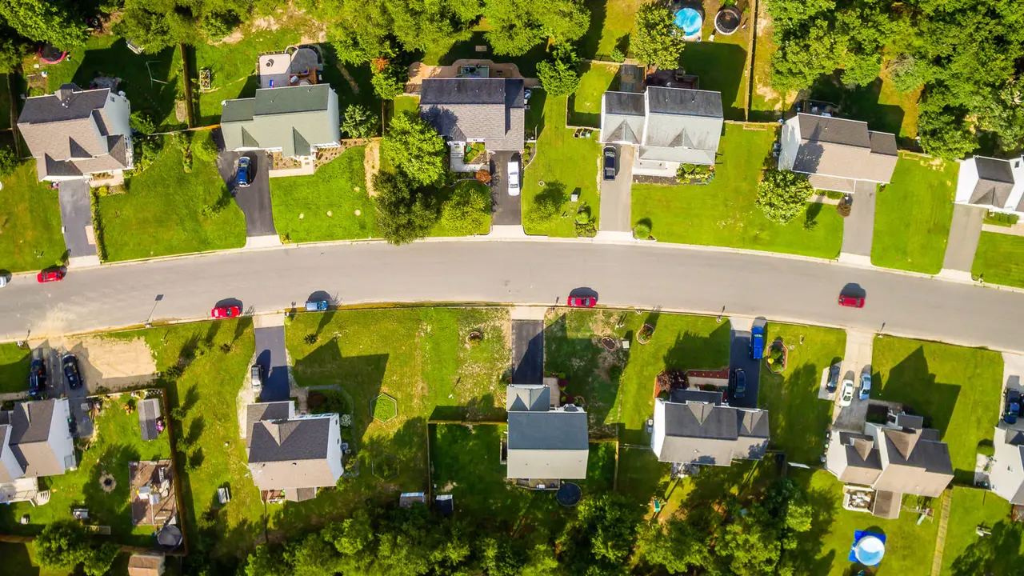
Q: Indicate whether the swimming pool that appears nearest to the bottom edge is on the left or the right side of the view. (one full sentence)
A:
It is on the right.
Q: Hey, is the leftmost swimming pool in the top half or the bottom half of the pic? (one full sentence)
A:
You can find the leftmost swimming pool in the bottom half.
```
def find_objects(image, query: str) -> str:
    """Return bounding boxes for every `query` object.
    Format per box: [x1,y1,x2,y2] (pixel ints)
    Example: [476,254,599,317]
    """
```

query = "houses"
[220,84,341,164]
[982,428,1024,522]
[245,395,341,505]
[827,406,954,519]
[499,383,589,490]
[779,113,898,194]
[17,83,132,186]
[654,389,770,479]
[0,397,75,506]
[950,155,1024,219]
[600,86,723,167]
[419,79,524,158]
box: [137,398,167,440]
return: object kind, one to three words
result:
shed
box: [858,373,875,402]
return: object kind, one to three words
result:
car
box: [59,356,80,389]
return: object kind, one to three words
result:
car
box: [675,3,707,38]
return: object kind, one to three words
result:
swimming pool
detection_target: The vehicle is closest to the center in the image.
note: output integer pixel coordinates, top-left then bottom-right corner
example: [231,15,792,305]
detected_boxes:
[569,295,597,308]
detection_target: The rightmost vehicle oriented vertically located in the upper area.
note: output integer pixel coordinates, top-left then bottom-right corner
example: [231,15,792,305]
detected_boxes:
[604,147,617,179]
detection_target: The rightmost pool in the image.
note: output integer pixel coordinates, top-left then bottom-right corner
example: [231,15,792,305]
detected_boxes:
[849,532,884,564]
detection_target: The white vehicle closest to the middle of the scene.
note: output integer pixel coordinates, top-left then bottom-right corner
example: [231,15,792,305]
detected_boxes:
[507,158,521,191]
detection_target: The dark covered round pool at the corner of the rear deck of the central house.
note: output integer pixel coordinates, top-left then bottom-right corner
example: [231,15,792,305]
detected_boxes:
[555,479,580,505]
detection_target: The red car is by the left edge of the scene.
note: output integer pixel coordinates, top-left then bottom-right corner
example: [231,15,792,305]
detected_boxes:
[34,269,62,282]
